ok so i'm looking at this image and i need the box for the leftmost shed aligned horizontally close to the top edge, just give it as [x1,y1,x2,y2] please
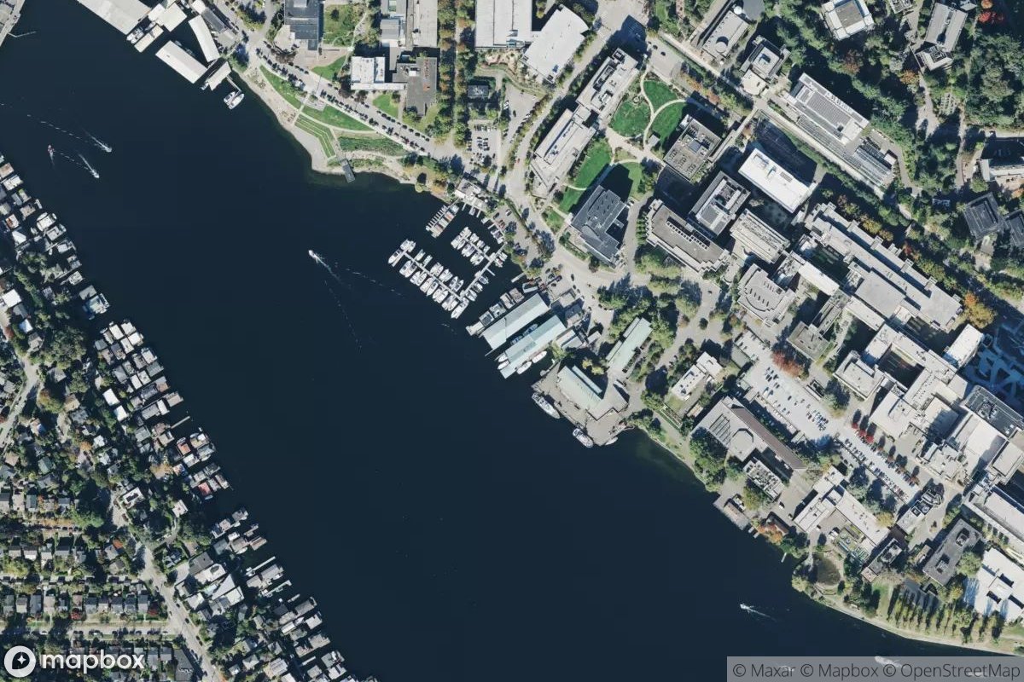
[76,0,151,36]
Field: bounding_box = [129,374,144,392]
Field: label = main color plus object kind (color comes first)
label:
white boat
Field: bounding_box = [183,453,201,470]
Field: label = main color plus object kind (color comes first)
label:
white boat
